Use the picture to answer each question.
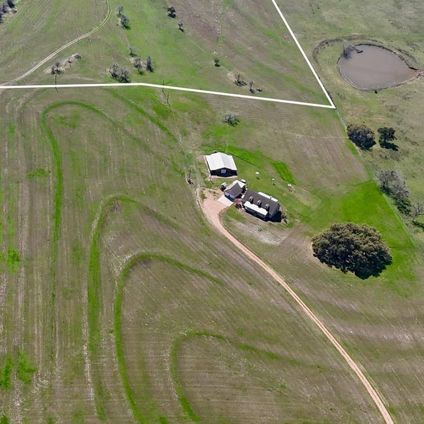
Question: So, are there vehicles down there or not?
No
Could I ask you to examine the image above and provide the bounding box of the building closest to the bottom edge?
[241,191,287,221]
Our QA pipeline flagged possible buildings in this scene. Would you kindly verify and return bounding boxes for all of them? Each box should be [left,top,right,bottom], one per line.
[224,177,253,199]
[207,150,239,174]
[241,191,287,221]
